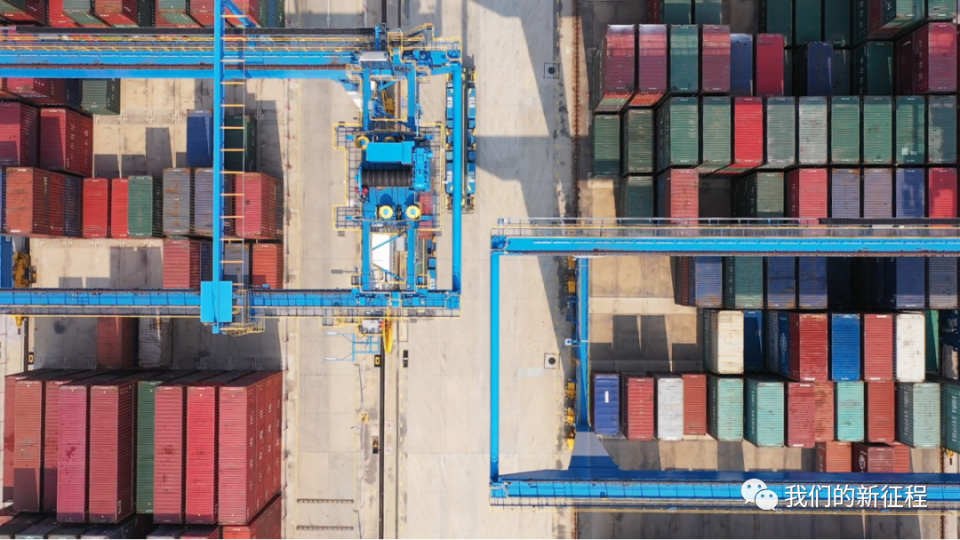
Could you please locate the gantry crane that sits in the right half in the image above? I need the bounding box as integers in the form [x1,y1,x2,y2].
[490,218,960,508]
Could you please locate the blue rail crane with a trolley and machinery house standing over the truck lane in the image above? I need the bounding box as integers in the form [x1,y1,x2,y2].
[0,0,462,361]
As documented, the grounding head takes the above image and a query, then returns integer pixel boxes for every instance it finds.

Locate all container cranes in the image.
[0,0,462,361]
[490,218,960,508]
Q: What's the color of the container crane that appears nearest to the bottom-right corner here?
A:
blue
